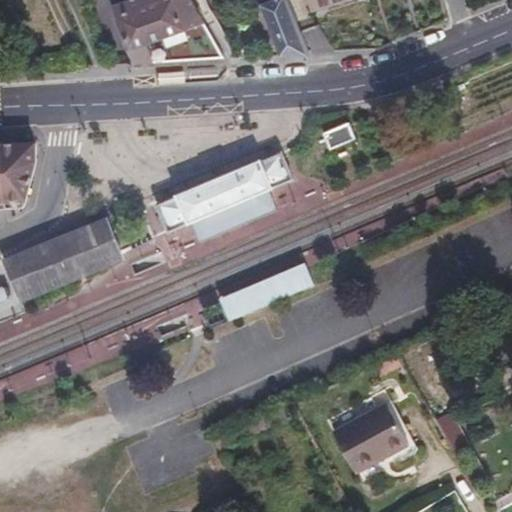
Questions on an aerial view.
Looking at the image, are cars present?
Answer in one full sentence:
Yes, a car can be made out from above.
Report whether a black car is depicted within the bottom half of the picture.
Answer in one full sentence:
No, no black car is visible within the bottom half of the picture.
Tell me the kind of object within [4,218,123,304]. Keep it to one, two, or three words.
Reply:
building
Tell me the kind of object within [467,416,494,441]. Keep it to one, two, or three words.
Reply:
shed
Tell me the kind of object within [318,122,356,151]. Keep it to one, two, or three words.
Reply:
shed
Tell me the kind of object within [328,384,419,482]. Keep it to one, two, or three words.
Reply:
house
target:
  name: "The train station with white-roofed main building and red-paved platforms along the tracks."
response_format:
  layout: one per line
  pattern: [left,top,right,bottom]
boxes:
[0,114,512,402]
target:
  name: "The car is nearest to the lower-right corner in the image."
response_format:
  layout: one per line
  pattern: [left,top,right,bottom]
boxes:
[457,480,474,502]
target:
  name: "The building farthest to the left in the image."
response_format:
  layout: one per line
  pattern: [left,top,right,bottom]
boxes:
[0,142,40,214]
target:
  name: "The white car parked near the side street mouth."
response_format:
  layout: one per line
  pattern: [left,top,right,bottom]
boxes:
[422,30,446,46]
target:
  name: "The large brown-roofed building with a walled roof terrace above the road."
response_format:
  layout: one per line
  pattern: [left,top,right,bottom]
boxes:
[114,0,224,66]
